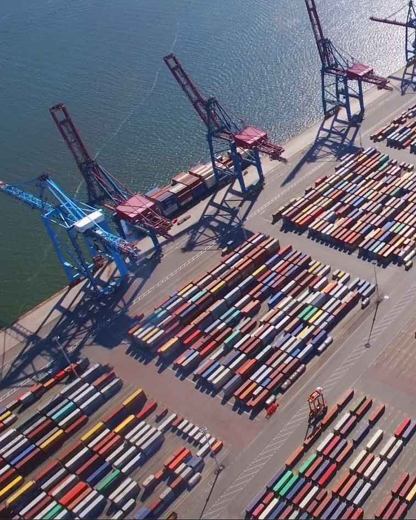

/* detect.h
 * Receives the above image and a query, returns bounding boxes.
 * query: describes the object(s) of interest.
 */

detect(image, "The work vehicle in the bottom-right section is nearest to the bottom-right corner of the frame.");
[306,389,328,422]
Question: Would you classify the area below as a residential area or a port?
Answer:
port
